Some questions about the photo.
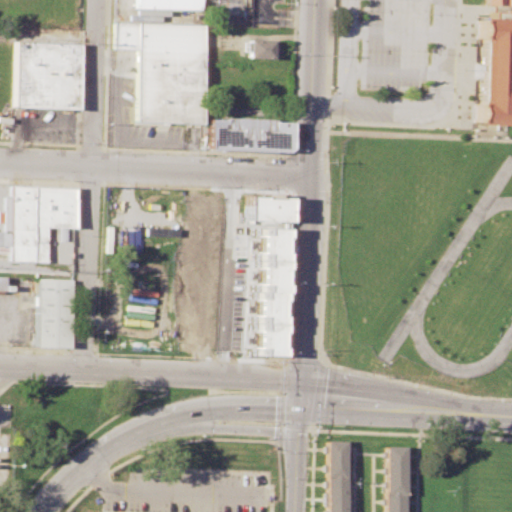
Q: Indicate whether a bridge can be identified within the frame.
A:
No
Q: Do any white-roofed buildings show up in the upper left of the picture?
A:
Yes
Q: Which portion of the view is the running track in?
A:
right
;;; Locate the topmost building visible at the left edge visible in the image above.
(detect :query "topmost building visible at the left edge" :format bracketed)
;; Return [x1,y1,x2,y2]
[14,43,86,111]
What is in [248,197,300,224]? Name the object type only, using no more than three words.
building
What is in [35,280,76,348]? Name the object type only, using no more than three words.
building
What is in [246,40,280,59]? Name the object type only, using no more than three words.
house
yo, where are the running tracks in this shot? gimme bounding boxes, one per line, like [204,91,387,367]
[382,149,512,374]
